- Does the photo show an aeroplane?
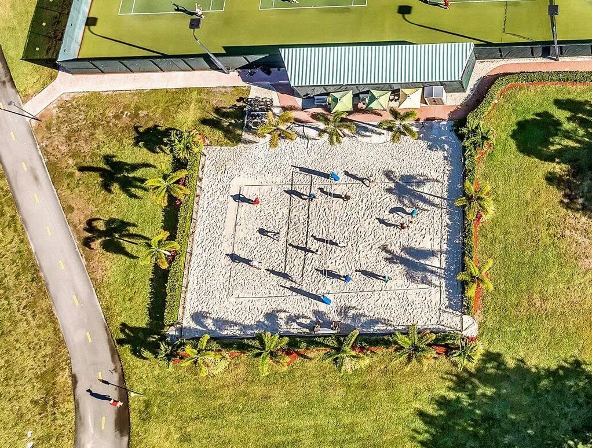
No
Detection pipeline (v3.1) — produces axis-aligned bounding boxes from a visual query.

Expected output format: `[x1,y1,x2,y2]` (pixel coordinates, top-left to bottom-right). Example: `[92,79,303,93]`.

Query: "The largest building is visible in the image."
[279,43,477,97]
